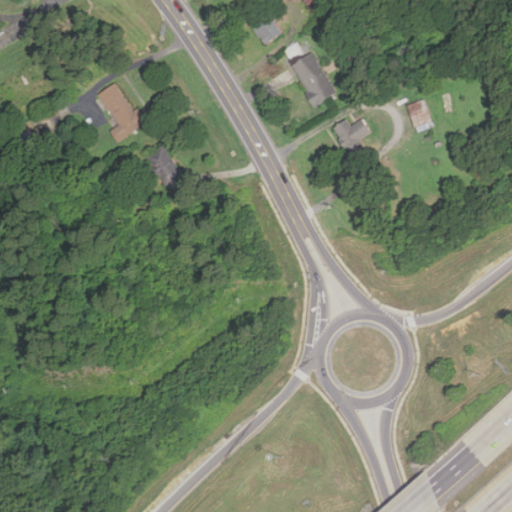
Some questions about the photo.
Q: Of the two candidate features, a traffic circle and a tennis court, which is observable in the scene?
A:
traffic circle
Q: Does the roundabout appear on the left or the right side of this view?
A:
right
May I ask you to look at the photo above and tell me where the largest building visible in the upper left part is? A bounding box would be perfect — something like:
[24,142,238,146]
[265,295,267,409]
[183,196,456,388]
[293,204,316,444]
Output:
[95,84,140,142]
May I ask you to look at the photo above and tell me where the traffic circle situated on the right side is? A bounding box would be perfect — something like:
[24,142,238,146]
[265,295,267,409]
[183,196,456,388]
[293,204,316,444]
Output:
[307,236,414,498]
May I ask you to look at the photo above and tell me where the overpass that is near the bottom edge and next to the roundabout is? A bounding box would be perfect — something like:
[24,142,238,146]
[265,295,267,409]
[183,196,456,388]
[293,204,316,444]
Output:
[374,470,441,512]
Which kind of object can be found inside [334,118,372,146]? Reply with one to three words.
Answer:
house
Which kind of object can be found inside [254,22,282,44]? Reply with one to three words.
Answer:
shed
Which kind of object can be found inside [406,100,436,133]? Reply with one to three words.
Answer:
barn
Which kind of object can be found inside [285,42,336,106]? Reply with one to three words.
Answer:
house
